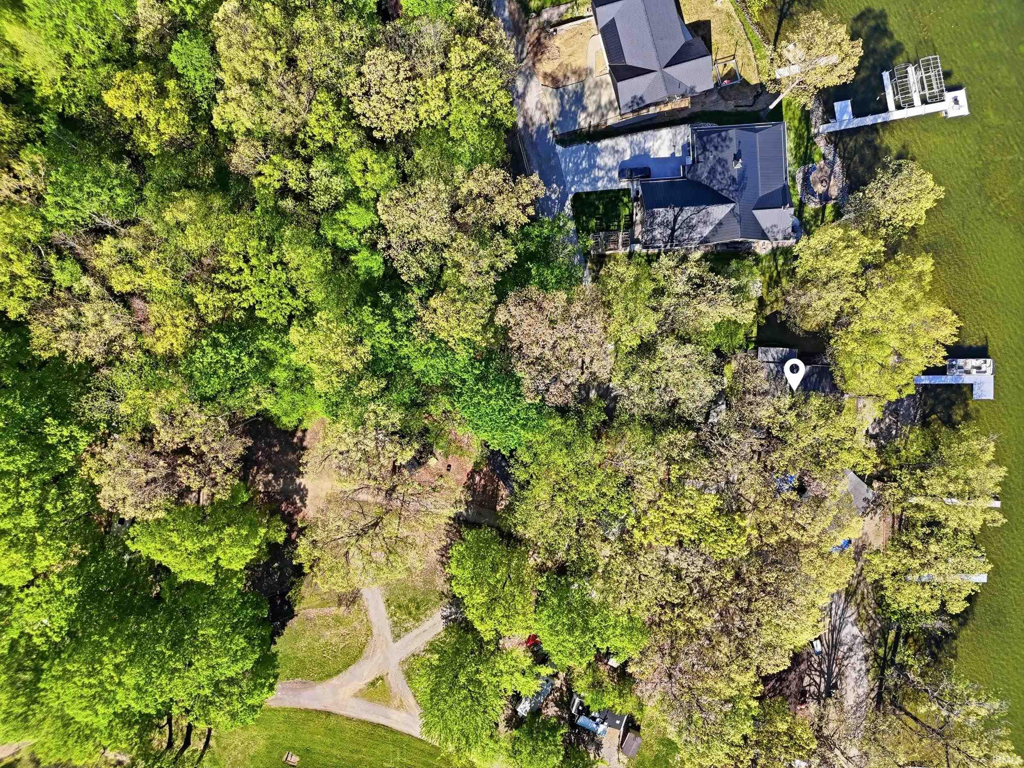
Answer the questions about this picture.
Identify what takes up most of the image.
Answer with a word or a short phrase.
trees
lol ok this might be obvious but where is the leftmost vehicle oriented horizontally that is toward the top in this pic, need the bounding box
[618,166,651,182]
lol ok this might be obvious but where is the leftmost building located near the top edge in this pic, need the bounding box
[593,0,713,120]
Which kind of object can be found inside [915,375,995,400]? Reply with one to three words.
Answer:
pier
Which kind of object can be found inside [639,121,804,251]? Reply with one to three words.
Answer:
house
